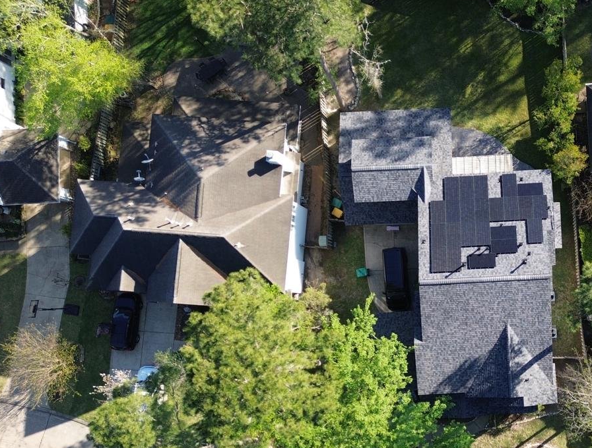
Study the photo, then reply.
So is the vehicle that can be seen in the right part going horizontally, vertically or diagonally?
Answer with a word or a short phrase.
vertically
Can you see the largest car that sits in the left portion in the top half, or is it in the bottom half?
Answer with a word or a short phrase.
bottom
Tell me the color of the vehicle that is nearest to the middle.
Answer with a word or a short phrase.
black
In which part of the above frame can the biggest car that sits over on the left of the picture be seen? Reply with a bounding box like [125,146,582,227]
[108,291,144,353]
